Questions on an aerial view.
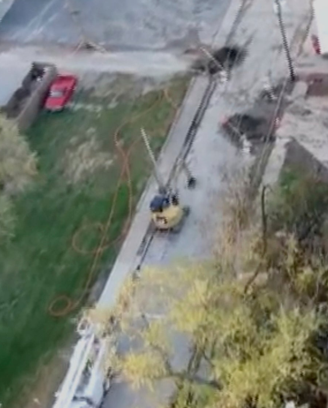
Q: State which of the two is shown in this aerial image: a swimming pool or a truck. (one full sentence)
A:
Looking from above, you can make out a truck.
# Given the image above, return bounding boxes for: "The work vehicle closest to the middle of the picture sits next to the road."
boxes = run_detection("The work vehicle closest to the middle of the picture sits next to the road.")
[140,152,213,241]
